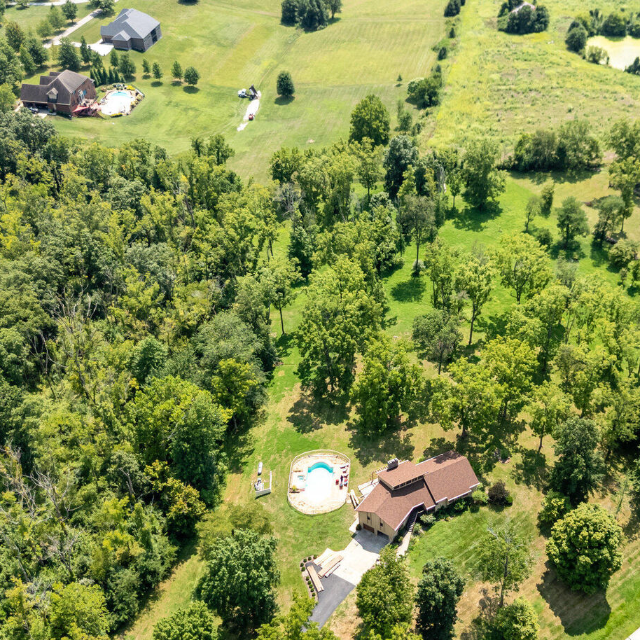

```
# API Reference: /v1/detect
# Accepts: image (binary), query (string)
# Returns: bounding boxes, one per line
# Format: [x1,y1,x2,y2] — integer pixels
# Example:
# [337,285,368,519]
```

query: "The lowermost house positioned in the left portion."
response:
[20,70,97,117]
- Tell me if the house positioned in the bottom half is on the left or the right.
right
